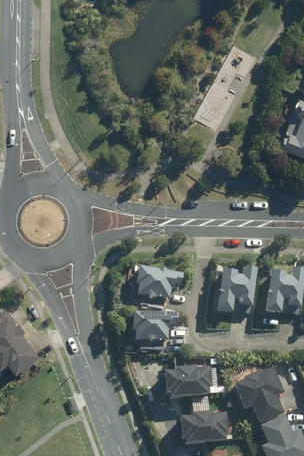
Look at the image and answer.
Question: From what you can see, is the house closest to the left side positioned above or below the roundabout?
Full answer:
The house closest to the left side is found below the roundabout in the photo.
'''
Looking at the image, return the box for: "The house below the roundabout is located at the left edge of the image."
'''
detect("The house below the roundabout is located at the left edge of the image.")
[0,310,45,374]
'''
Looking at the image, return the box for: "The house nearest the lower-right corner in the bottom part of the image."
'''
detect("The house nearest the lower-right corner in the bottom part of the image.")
[260,414,304,456]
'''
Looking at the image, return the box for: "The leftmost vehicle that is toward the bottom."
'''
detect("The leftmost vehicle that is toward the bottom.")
[28,303,40,320]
